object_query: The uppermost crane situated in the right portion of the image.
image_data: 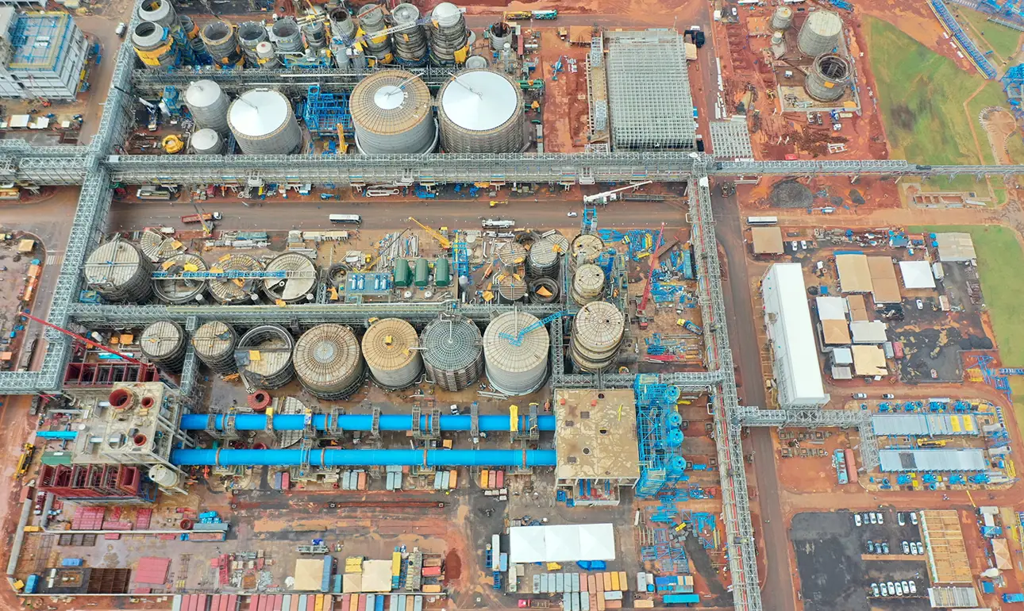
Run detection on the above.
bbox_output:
[582,182,652,206]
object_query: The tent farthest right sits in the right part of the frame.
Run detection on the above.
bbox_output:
[895,262,935,292]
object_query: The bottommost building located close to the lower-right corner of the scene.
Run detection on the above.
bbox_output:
[924,588,977,609]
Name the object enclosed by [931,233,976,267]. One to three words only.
building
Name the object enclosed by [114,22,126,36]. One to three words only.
vehicle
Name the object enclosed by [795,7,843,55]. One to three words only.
storage tank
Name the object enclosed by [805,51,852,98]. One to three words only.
storage tank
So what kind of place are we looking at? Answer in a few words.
industrial area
